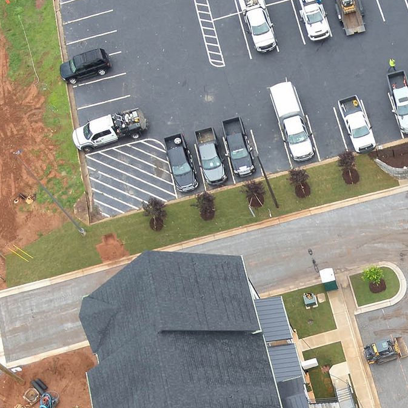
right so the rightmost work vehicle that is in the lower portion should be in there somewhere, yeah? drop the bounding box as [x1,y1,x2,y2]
[366,335,408,364]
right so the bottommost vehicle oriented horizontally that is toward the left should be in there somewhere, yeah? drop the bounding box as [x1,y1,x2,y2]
[73,109,152,150]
